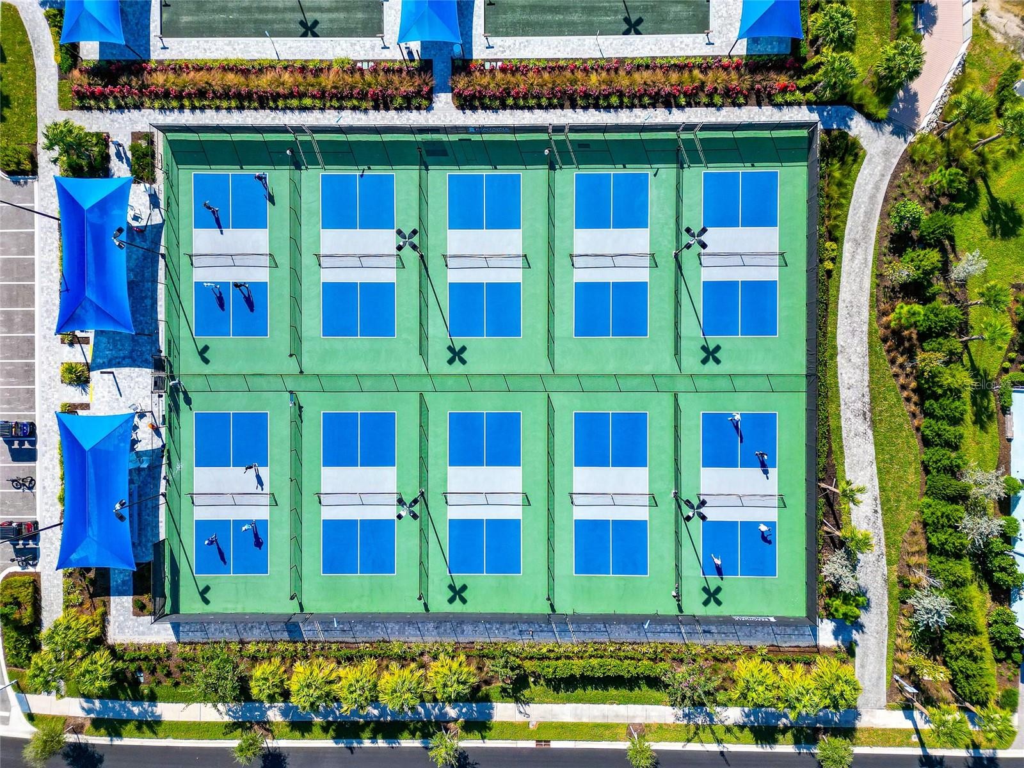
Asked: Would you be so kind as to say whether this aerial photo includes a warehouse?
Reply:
No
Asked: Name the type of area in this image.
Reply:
sports ground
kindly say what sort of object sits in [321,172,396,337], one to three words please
sports court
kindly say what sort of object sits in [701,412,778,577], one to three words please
sports court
